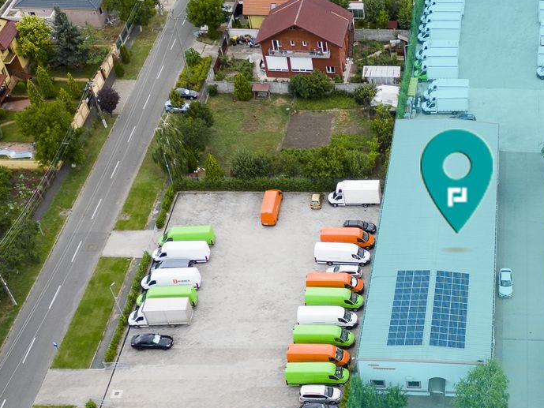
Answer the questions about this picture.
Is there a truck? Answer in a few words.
Yes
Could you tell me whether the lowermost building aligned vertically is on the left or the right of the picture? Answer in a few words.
right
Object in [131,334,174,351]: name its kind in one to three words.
car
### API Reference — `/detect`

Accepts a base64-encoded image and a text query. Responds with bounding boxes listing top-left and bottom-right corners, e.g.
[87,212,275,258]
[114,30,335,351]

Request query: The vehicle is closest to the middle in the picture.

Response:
[261,192,283,227]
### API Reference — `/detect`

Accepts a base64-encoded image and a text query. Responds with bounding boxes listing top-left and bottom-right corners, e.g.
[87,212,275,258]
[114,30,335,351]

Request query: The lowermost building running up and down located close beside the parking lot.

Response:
[357,116,500,392]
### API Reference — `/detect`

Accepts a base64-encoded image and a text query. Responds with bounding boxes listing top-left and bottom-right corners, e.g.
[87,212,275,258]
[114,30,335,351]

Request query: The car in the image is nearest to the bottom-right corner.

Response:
[497,268,514,296]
